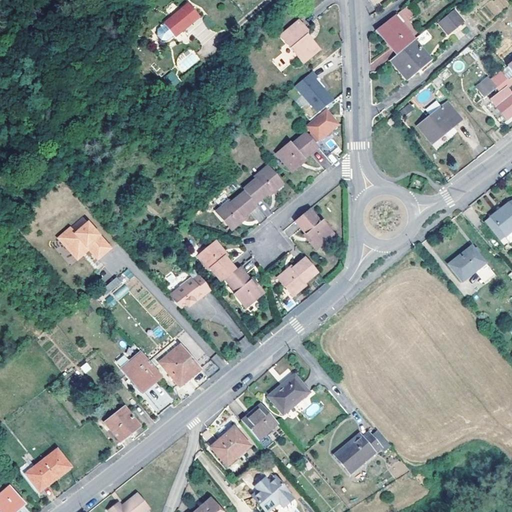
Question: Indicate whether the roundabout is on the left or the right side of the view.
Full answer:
You can find the roundabout on the right side of the picture.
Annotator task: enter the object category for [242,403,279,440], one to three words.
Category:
house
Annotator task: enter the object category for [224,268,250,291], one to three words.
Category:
building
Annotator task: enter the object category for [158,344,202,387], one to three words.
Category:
house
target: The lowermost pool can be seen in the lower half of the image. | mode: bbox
[304,402,322,417]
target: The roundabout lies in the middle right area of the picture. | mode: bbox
[352,175,438,260]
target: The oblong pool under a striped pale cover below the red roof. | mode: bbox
[178,54,199,72]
